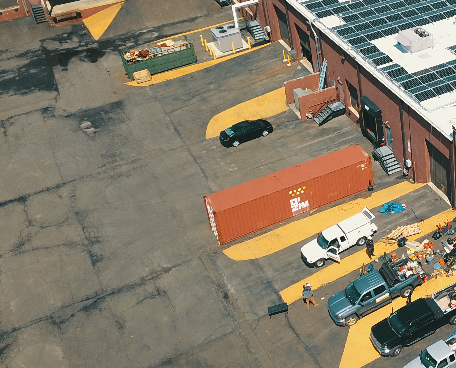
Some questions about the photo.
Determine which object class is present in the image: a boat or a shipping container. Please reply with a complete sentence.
Of the two, only a shipping container appears.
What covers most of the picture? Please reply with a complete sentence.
What you mostly see from above here is paved ground.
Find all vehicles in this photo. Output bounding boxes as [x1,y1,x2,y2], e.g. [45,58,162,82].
[320,256,428,330]
[211,116,277,147]
[294,208,373,269]
[396,336,456,368]
[363,282,456,357]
